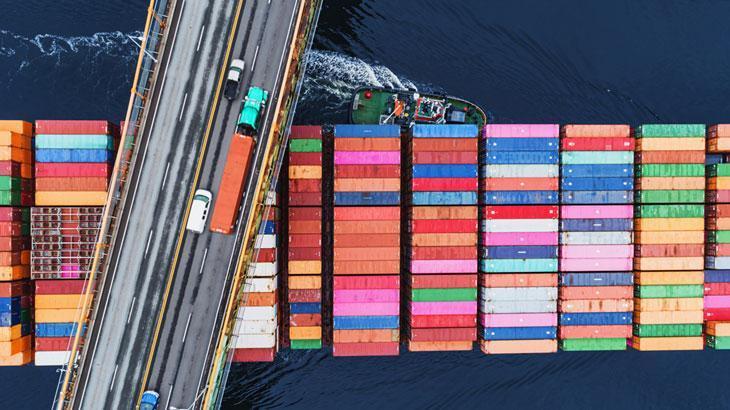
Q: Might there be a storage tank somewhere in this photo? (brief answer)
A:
No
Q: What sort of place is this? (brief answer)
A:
port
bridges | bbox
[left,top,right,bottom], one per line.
[51,0,324,410]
